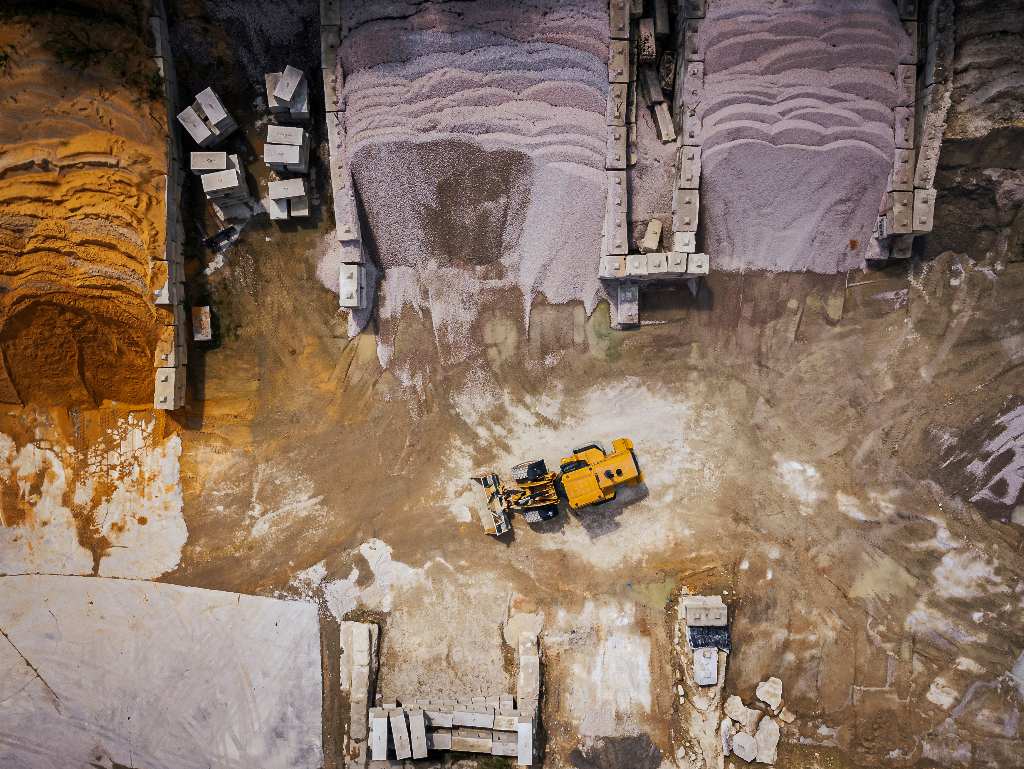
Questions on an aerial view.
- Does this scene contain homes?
No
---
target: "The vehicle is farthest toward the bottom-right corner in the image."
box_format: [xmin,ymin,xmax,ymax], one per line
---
[468,436,645,532]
